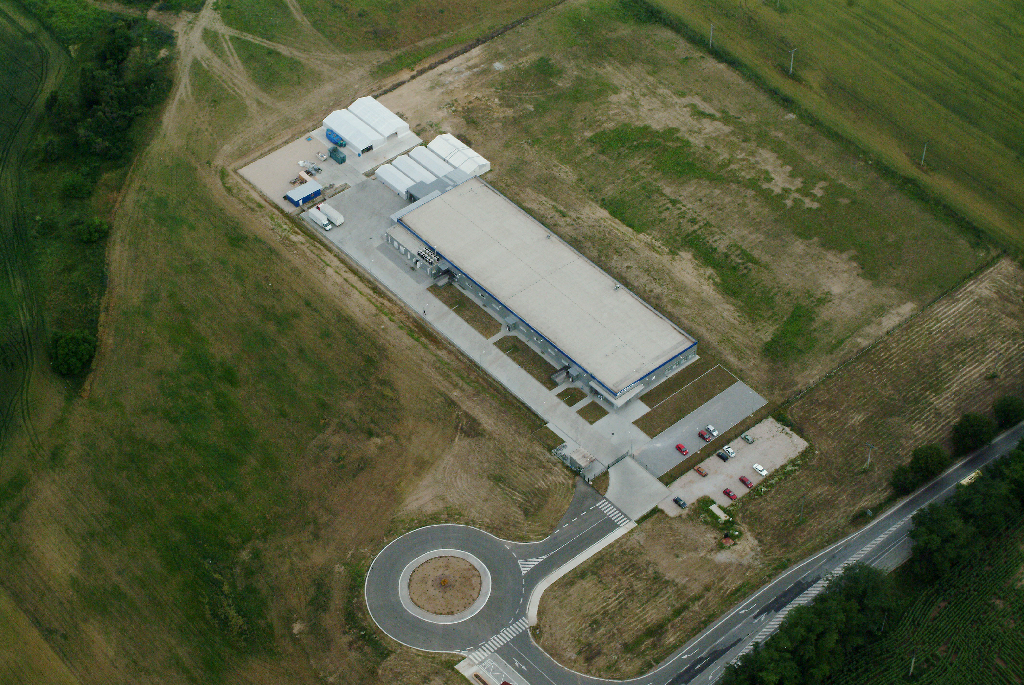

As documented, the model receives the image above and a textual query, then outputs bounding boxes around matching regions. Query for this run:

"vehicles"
[740,434,754,445]
[675,444,688,455]
[716,452,729,463]
[308,204,331,228]
[722,489,737,500]
[706,424,718,435]
[316,200,344,226]
[693,467,707,477]
[672,497,687,509]
[722,447,737,458]
[738,476,753,488]
[752,464,768,476]
[696,429,711,442]
[959,466,988,492]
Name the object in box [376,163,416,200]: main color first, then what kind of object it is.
white tent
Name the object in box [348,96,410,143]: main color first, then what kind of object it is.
white tent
